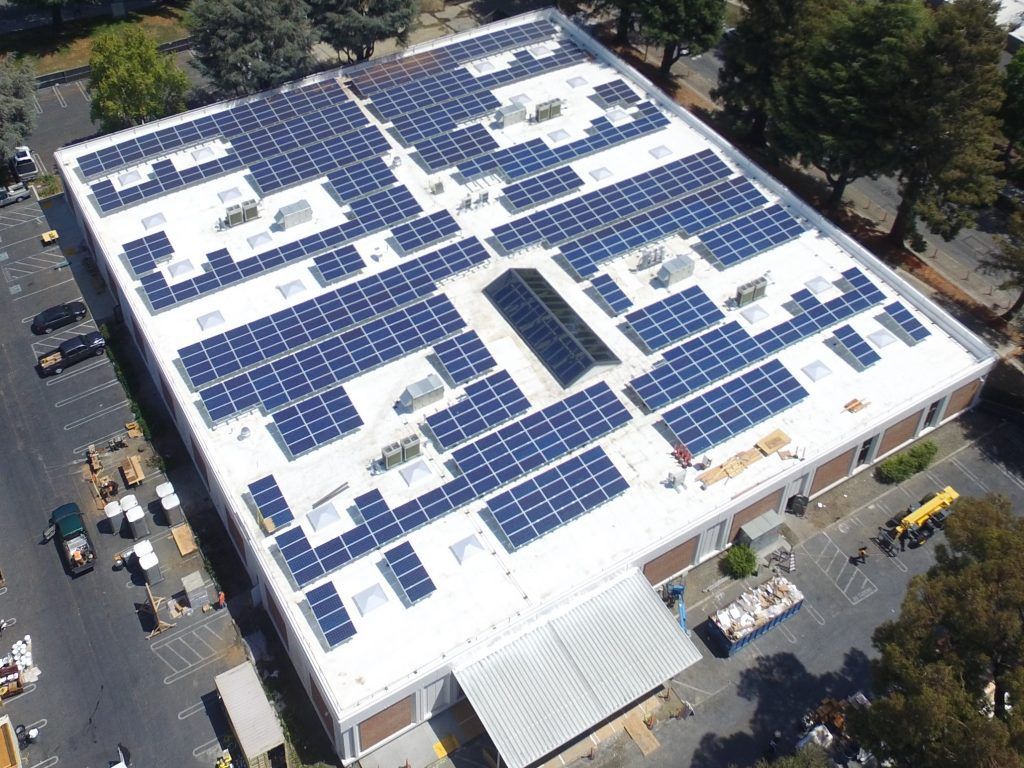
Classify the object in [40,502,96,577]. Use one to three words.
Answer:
truck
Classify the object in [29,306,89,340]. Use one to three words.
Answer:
car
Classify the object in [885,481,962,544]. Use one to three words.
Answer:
work vehicle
